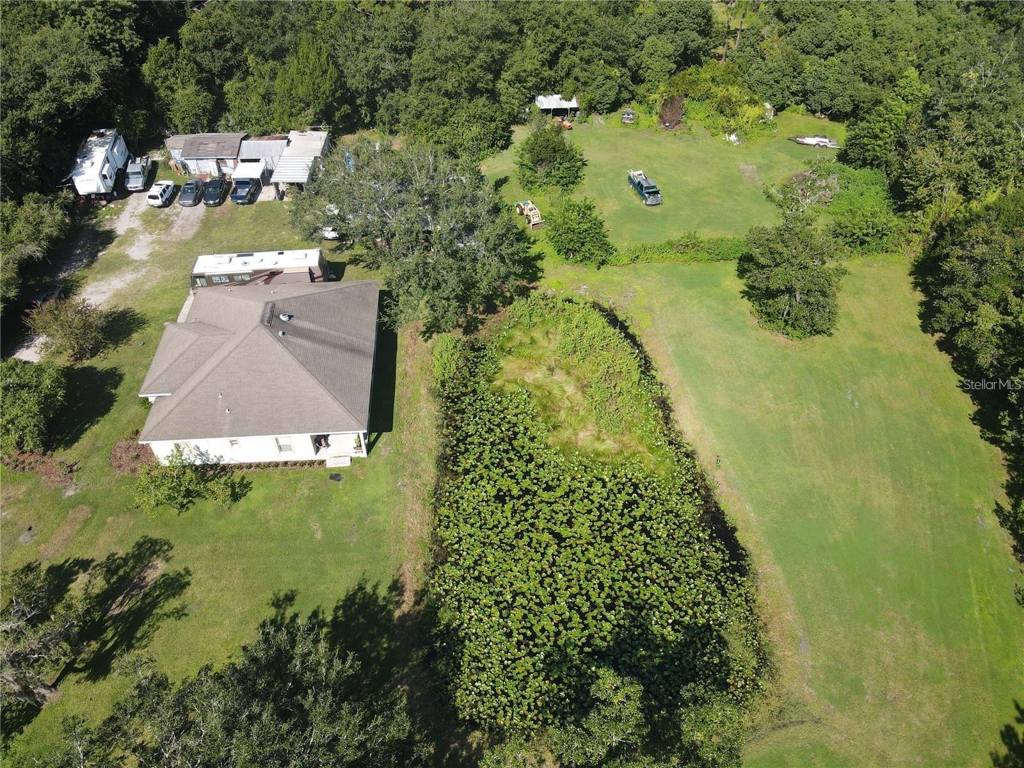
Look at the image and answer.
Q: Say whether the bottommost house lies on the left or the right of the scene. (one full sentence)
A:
The bottommost house sits on the left side.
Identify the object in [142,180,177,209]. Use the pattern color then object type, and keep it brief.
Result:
white car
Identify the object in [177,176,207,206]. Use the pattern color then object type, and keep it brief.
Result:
gray car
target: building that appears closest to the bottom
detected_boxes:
[138,278,383,467]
